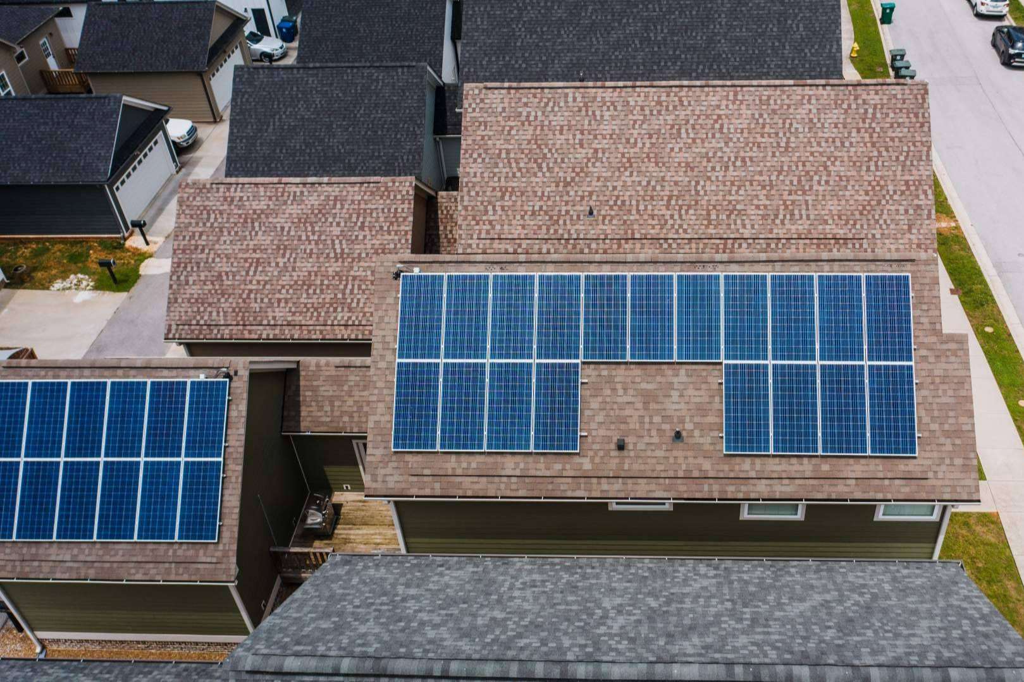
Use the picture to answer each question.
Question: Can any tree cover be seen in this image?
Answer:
No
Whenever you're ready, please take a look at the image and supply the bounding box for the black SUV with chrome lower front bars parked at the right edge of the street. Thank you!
[990,17,1024,64]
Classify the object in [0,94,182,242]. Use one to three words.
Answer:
building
